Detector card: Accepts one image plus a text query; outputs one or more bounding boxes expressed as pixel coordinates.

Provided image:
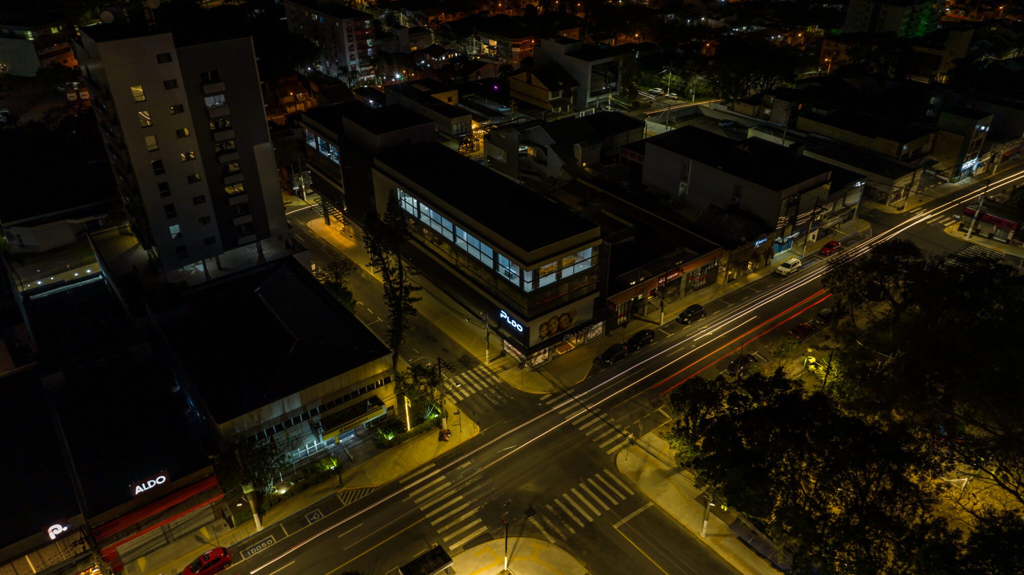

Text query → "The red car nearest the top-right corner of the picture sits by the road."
[821,238,845,255]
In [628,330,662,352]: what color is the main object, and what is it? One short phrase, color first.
black car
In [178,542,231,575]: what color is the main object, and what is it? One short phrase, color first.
red car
